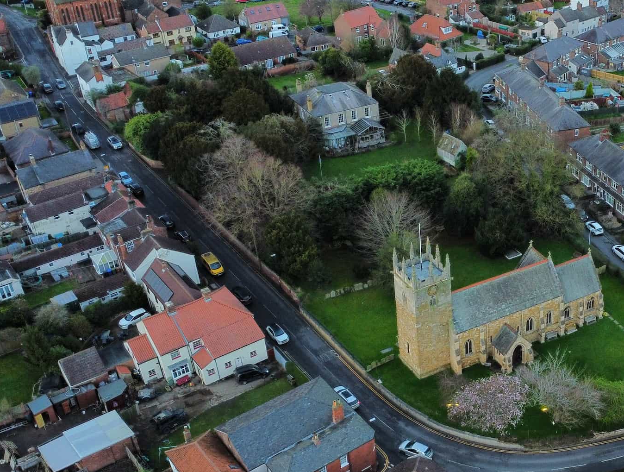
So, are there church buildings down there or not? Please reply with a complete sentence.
Yes, a church building is visible in the scene.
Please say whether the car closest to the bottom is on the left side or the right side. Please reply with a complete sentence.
The car closest to the bottom appears in the right half of the scene.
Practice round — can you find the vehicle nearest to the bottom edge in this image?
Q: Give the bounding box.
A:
[397,440,437,462]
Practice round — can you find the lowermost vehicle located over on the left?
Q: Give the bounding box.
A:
[150,406,191,432]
